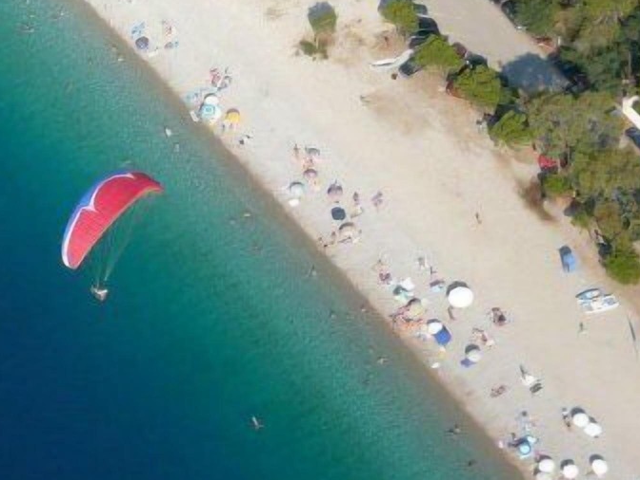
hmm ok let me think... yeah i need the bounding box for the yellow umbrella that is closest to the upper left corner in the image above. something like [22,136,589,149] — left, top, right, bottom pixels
[225,112,238,126]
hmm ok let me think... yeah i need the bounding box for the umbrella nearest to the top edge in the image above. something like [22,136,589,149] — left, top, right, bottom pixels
[134,37,149,51]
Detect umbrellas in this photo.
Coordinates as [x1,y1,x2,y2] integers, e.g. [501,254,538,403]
[332,208,346,222]
[447,285,473,309]
[134,37,149,51]
[468,350,482,366]
[203,94,218,106]
[563,465,578,480]
[289,183,303,197]
[435,329,452,346]
[203,106,219,121]
[305,170,318,183]
[225,112,238,126]
[539,460,554,475]
[397,286,412,301]
[428,323,441,336]
[306,149,320,163]
[517,443,532,456]
[575,412,590,428]
[585,423,602,440]
[537,472,552,480]
[407,302,423,317]
[591,461,607,476]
